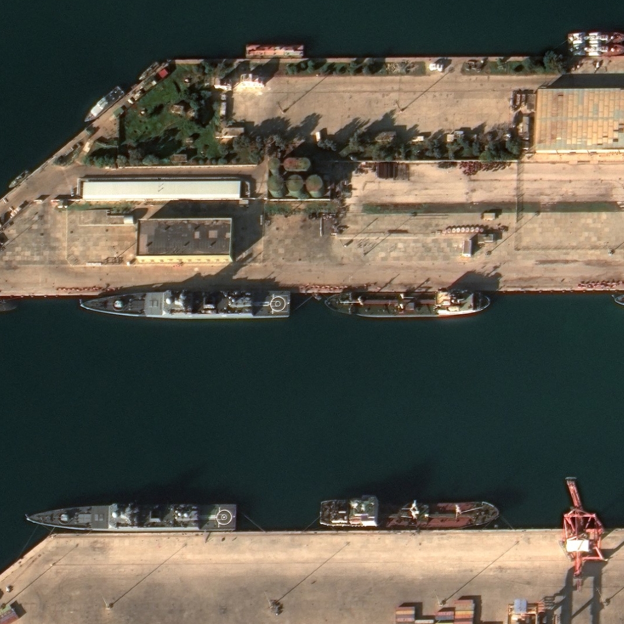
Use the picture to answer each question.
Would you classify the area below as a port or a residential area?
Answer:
port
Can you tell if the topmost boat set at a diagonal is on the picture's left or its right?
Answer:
left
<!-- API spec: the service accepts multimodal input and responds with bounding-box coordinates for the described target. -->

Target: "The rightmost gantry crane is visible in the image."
[562,479,606,596]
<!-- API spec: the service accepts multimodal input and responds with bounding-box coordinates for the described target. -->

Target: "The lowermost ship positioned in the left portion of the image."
[26,502,237,532]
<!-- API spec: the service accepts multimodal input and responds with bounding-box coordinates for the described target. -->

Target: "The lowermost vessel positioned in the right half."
[320,496,500,530]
